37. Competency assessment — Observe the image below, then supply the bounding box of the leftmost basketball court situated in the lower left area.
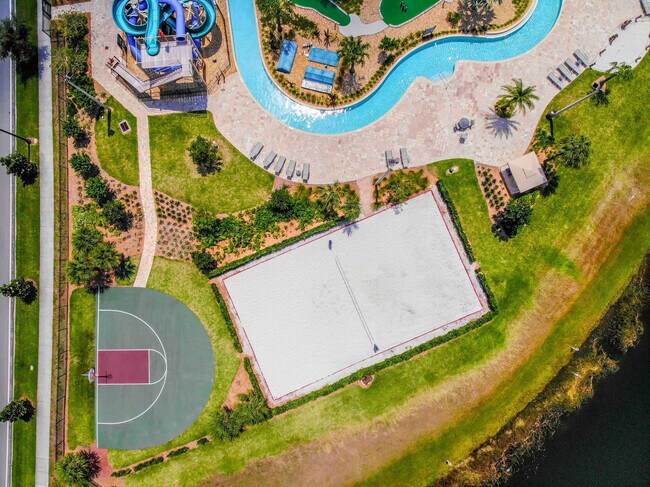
[95,287,213,450]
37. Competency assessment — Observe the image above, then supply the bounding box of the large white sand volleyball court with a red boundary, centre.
[214,183,491,410]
